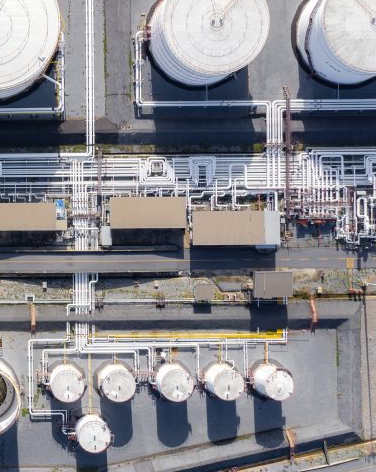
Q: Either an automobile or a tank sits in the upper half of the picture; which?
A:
tank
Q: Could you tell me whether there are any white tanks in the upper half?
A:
Yes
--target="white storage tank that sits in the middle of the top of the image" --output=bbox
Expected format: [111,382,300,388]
[144,0,272,91]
